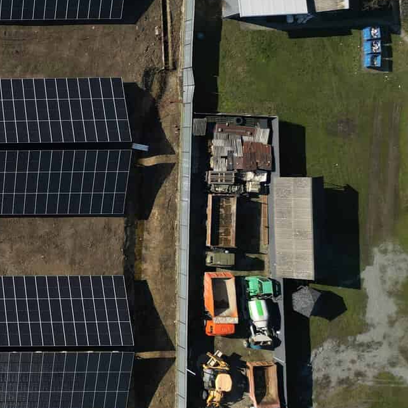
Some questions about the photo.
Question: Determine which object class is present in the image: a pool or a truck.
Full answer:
Looking from above, you can make out a truck.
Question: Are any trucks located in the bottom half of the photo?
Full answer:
Yes, looking in the bottom half of the photo, one can make out a truck.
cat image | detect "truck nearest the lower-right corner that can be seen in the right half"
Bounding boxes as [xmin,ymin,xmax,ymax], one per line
[241,358,283,408]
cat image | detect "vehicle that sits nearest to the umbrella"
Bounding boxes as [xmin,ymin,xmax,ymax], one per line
[239,271,278,345]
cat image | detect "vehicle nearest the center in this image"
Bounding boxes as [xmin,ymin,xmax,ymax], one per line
[203,193,240,268]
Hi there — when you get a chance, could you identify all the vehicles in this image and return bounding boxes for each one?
[203,193,240,268]
[200,350,237,408]
[200,271,239,337]
[241,358,283,408]
[239,271,278,345]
